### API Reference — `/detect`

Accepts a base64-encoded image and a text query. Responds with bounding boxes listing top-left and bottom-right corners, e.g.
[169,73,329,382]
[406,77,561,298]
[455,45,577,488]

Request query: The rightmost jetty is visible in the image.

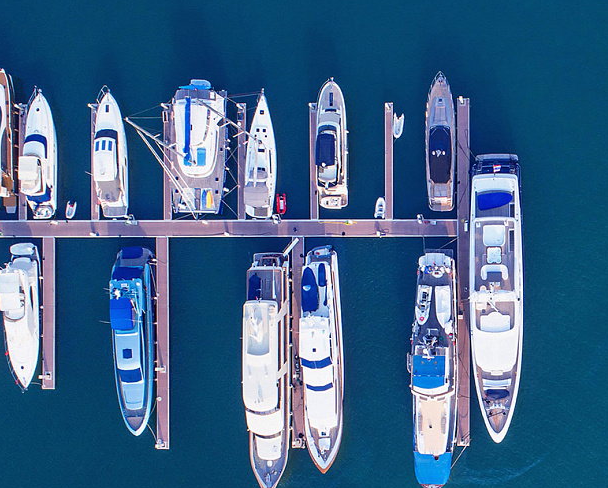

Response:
[457,97,470,446]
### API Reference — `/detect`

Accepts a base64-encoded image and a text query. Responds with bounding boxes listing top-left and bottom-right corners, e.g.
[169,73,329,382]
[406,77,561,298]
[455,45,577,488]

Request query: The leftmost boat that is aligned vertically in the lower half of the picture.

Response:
[0,244,46,392]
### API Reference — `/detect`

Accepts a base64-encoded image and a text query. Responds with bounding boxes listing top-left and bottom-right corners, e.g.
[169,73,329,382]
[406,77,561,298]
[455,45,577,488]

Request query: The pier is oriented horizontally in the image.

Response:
[0,220,457,238]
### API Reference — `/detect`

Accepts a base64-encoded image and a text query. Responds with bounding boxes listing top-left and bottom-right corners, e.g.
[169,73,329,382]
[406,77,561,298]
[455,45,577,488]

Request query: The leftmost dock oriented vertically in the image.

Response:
[18,103,30,220]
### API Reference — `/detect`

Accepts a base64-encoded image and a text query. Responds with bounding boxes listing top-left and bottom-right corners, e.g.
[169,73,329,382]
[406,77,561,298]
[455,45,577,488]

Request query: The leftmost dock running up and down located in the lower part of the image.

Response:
[42,237,58,389]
